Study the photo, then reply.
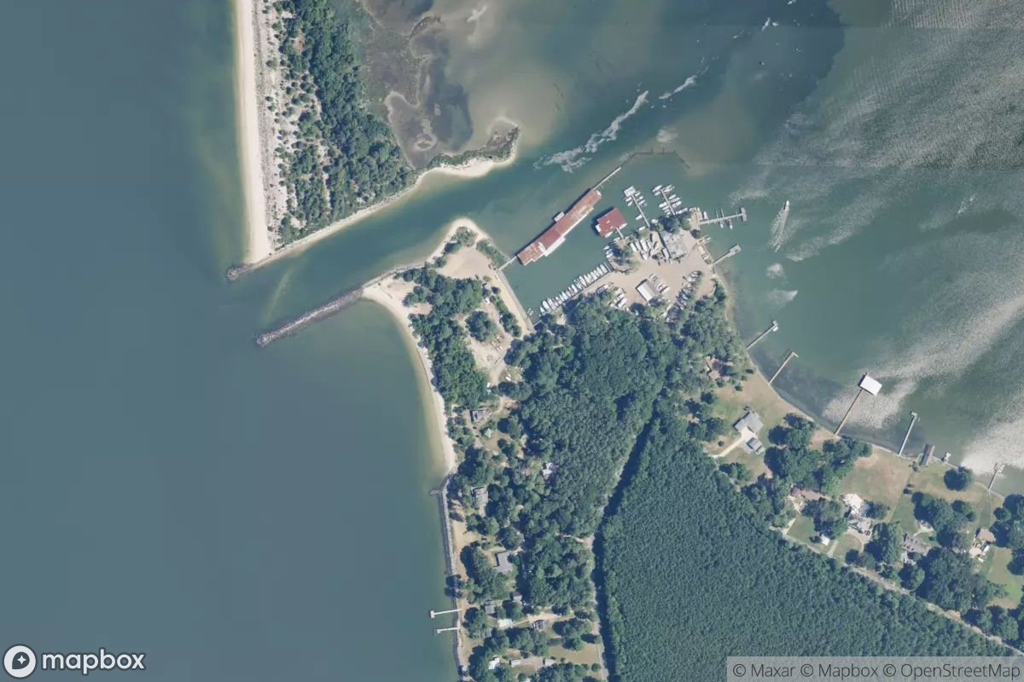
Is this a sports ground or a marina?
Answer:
marina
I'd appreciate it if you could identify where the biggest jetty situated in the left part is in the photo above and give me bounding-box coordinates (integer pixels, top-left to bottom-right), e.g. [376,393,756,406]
[257,287,364,345]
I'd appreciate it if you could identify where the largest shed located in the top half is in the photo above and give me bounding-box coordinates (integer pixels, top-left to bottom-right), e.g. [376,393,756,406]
[518,188,601,264]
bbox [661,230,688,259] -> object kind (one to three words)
building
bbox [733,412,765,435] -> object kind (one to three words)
house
